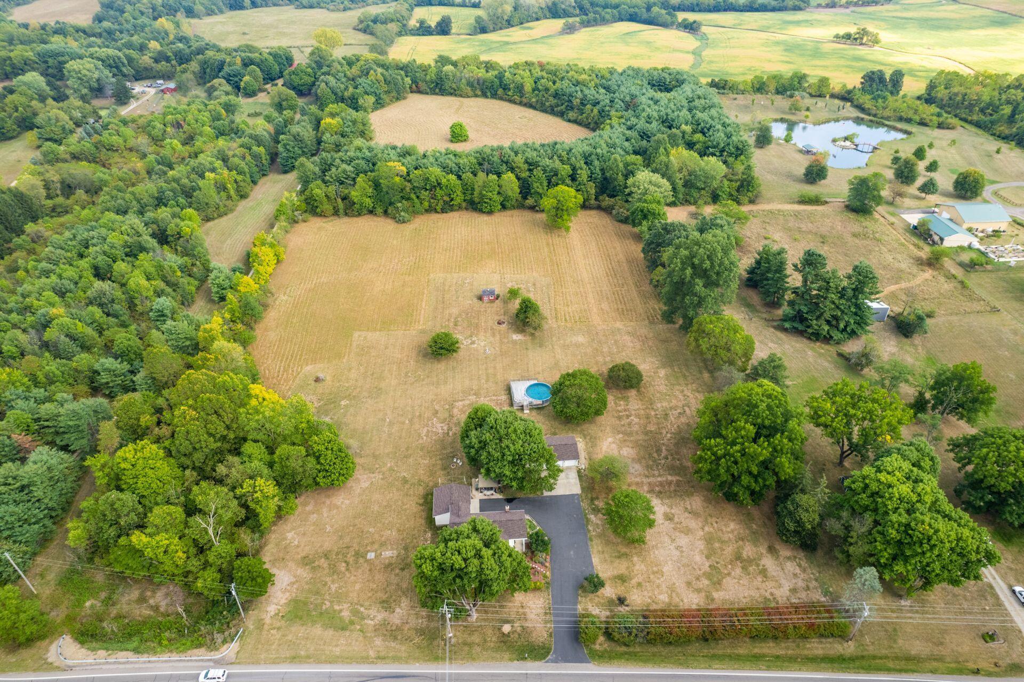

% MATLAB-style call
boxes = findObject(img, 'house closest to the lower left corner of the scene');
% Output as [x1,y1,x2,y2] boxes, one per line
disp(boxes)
[432,481,527,548]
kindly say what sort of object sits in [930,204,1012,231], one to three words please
barn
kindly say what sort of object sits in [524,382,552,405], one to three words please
swimming pool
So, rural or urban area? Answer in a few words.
rural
